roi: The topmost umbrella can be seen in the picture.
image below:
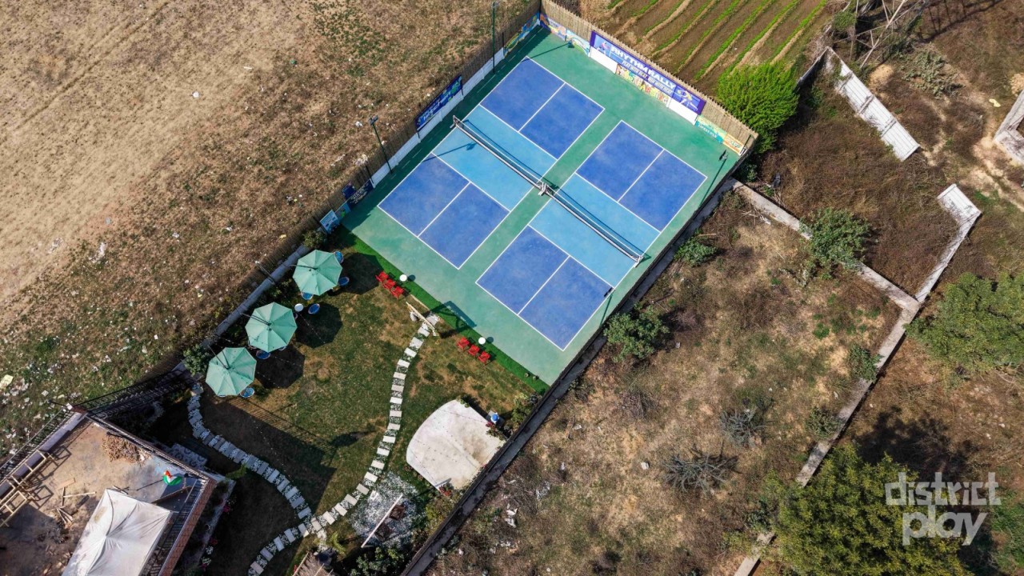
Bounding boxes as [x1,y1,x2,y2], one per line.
[288,248,343,294]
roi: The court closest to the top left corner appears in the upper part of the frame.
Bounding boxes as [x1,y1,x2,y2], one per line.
[378,56,605,269]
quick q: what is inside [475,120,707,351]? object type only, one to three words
sports court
